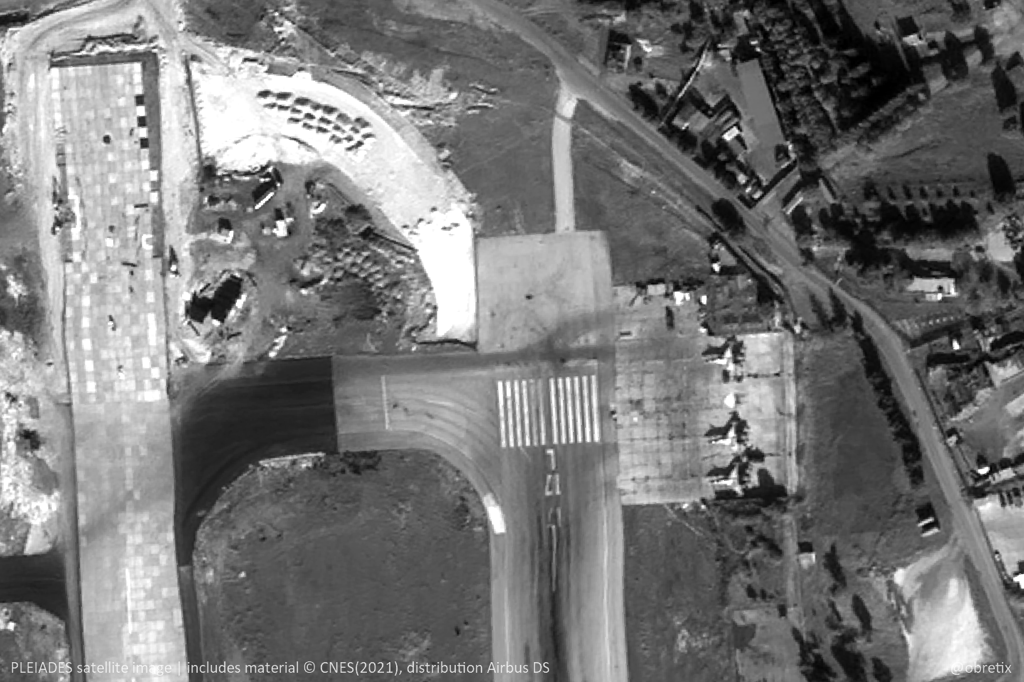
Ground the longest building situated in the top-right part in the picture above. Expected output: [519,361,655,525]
[738,59,785,151]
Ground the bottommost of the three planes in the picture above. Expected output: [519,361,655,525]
[713,469,752,494]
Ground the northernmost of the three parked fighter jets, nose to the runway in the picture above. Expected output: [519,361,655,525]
[706,348,745,373]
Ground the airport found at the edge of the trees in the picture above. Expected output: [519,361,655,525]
[0,62,798,682]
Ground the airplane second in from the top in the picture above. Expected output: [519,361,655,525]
[712,427,750,452]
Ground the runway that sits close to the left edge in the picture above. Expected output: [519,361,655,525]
[51,62,190,682]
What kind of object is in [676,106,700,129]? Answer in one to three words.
house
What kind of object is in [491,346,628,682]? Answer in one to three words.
runway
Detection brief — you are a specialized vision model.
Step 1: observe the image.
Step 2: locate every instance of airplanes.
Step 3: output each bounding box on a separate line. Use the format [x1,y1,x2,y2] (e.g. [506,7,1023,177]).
[713,469,752,494]
[706,348,745,373]
[712,427,750,452]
